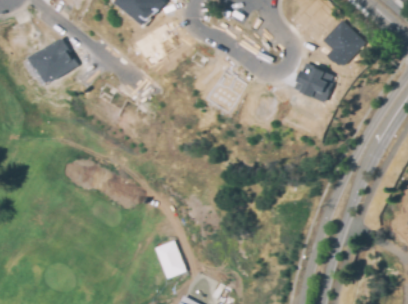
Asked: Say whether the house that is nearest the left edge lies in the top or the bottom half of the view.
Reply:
top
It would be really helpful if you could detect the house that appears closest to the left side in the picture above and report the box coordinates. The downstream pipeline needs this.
[30,38,82,82]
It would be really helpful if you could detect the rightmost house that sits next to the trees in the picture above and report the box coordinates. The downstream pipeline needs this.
[326,20,369,64]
